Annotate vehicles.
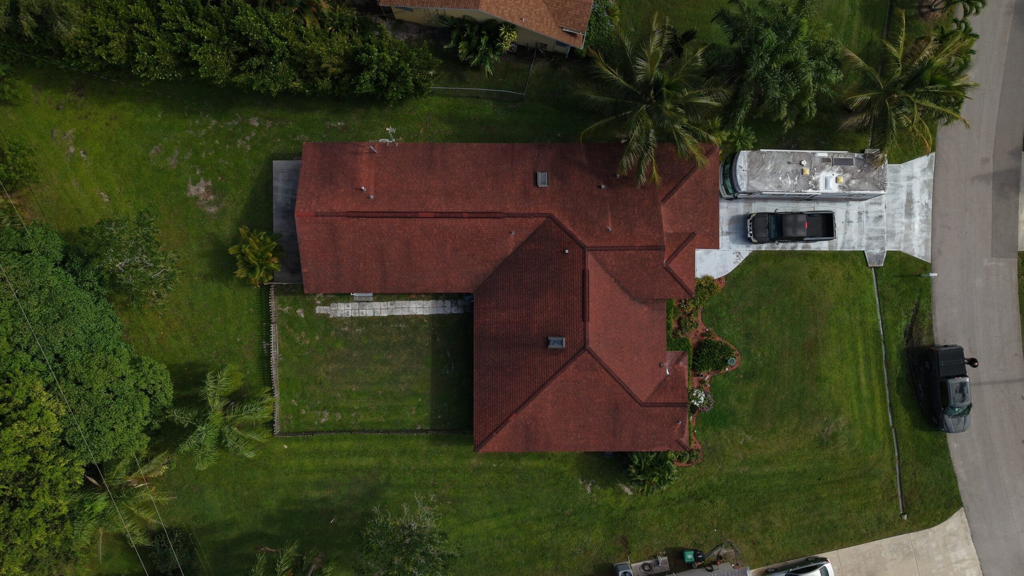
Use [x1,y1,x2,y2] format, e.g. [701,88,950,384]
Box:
[743,205,837,248]
[758,556,838,576]
[926,342,979,436]
[720,147,890,202]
